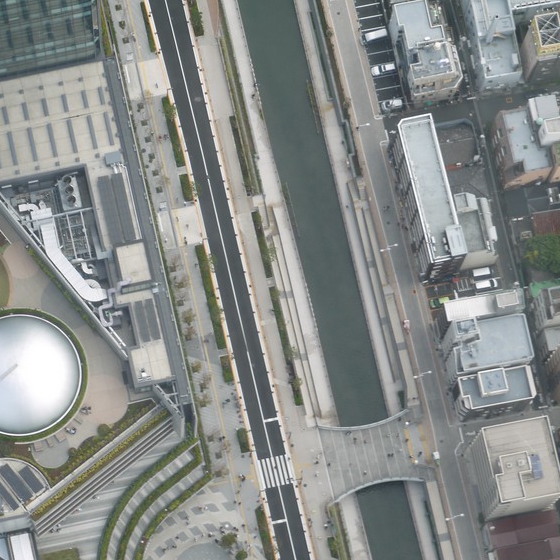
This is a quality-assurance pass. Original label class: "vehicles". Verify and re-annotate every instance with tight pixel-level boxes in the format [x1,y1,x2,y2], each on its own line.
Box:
[380,96,404,110]
[371,62,396,75]
[474,278,498,291]
[426,295,451,309]
[362,27,388,42]
[470,265,493,278]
